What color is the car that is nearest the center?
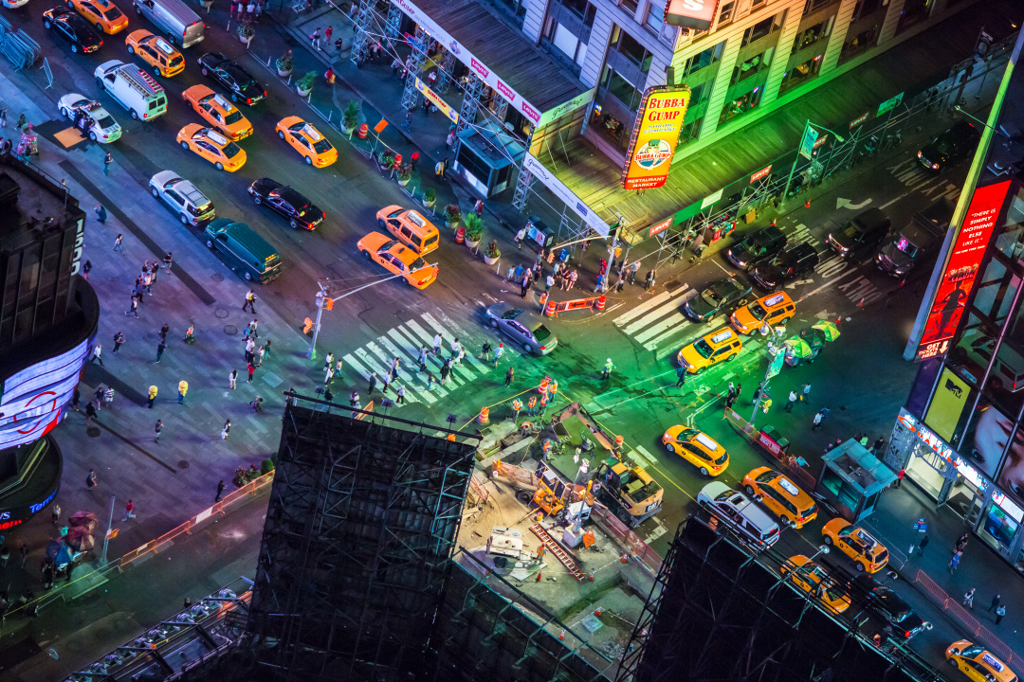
blue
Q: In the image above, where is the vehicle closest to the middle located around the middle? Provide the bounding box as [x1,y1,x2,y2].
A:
[477,309,564,360]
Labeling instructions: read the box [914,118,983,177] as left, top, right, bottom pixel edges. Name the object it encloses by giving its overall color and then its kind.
black car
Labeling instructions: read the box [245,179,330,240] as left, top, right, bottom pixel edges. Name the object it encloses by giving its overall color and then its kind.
black car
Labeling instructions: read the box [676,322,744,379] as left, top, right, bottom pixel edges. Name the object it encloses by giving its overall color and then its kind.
yellow car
